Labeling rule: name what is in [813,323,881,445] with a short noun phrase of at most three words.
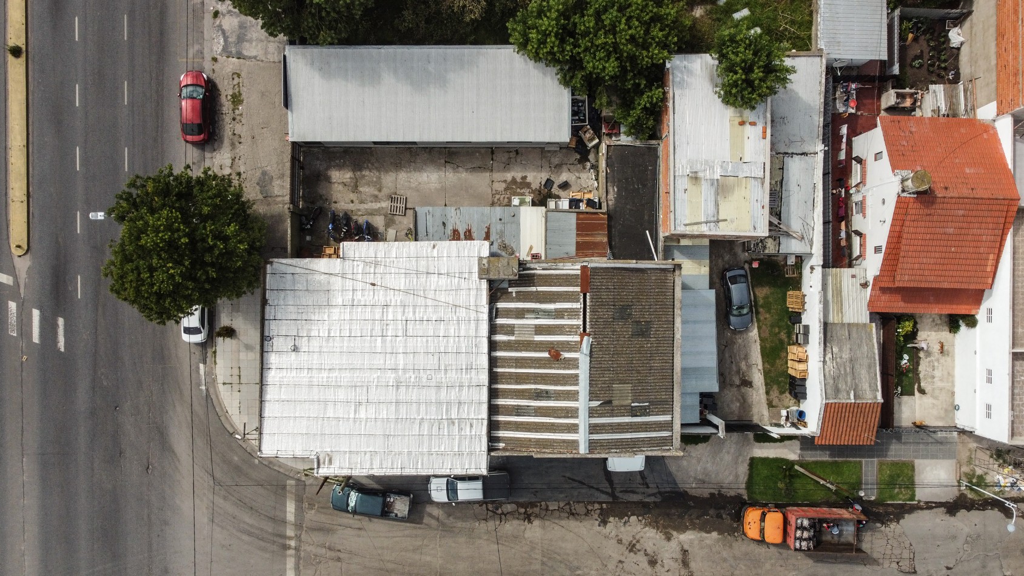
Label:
building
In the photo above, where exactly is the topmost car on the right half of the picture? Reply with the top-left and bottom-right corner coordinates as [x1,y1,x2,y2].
[719,263,758,333]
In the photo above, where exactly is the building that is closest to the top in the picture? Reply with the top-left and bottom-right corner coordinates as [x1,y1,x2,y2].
[803,0,887,72]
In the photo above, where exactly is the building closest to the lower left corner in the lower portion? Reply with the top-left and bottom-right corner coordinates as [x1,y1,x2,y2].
[257,242,490,476]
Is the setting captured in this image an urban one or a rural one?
urban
